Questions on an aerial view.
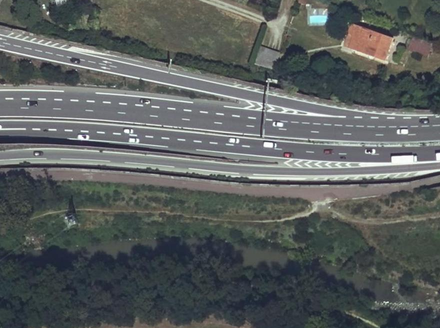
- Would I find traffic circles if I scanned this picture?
No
